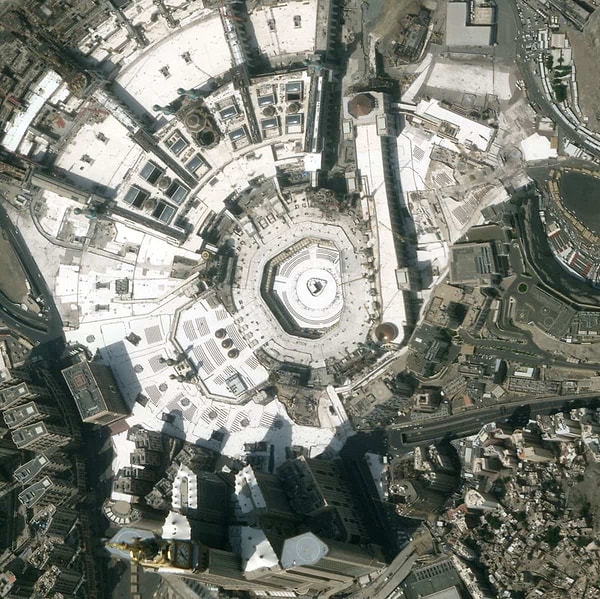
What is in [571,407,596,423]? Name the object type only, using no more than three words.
building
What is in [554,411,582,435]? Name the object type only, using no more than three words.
building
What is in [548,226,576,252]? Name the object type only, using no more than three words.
shed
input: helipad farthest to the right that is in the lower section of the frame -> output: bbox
[280,532,328,567]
